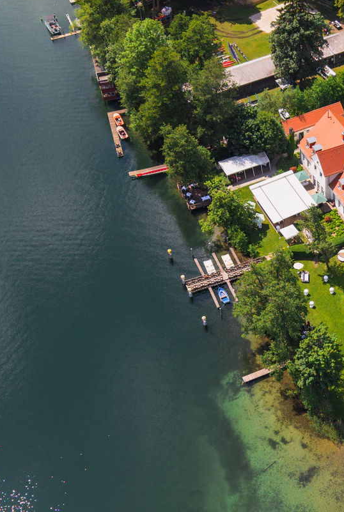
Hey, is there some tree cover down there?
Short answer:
Yes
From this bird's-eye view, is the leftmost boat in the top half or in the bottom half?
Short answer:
top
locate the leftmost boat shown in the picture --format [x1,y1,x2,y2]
[41,12,62,37]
